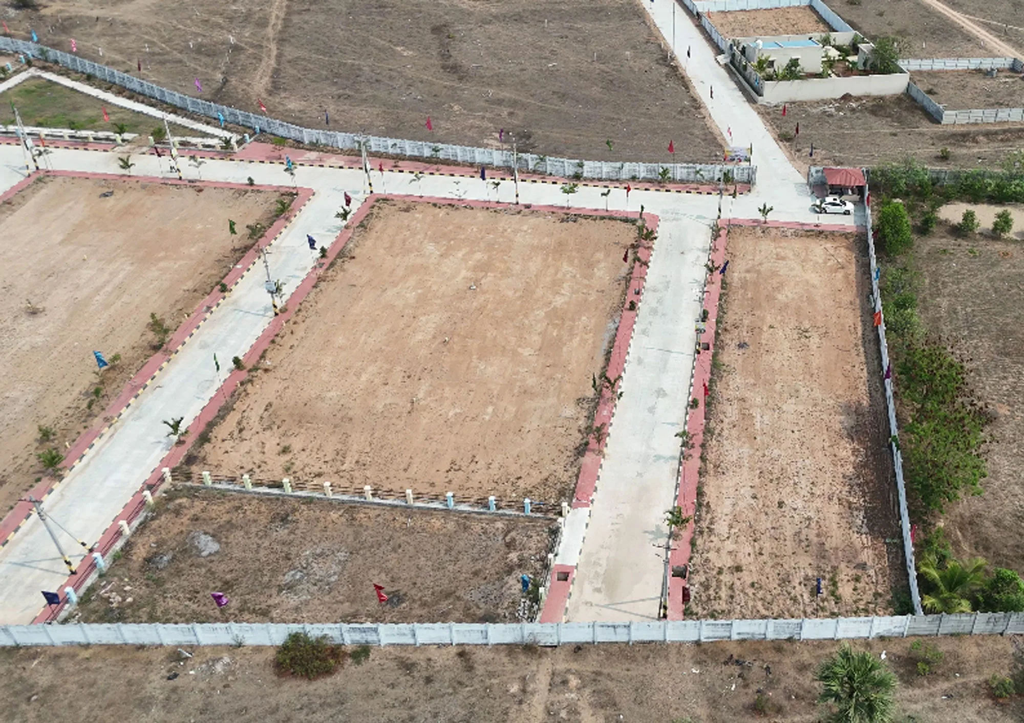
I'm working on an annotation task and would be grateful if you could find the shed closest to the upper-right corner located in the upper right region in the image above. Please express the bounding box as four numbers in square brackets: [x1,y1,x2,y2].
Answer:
[856,43,876,72]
